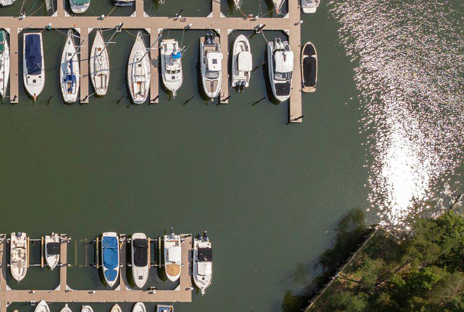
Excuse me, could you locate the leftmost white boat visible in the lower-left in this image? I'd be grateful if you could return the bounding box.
[11,229,28,284]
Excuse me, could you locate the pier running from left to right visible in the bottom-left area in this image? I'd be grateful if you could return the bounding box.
[0,234,192,312]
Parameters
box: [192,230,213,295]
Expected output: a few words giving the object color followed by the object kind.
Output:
white boat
